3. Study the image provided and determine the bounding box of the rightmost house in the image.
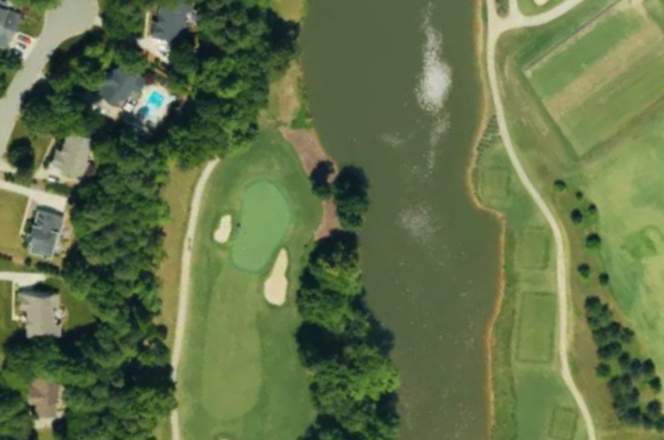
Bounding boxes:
[149,0,193,44]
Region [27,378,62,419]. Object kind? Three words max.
house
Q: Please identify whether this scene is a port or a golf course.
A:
golf course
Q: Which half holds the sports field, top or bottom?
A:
top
